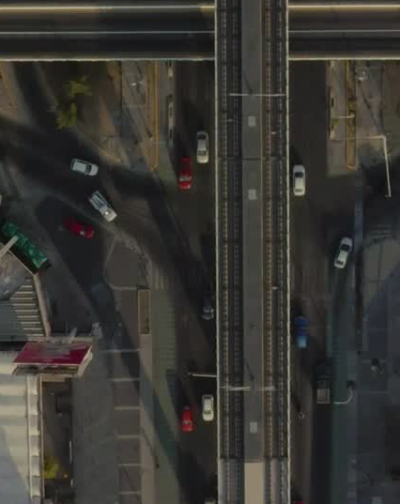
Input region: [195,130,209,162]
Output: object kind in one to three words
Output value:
car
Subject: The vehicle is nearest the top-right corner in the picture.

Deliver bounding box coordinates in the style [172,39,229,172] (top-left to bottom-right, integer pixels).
[291,164,305,195]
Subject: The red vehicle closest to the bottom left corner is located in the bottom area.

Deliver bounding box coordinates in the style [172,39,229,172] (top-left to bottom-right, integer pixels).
[179,404,194,430]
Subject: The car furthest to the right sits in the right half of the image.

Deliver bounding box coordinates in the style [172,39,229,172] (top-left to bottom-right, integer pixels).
[334,236,352,268]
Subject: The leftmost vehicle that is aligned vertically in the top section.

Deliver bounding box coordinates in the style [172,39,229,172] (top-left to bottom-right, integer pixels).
[177,156,191,189]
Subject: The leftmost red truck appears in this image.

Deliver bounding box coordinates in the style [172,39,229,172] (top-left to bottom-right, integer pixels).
[61,216,95,239]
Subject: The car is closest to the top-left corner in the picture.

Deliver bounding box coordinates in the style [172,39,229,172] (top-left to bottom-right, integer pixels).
[69,158,99,177]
